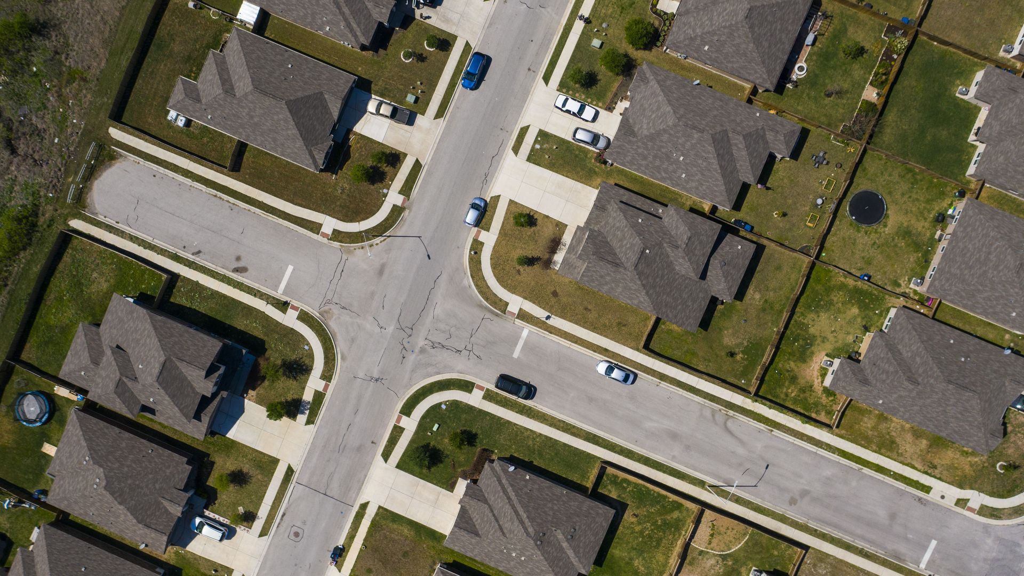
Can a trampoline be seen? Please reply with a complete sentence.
Yes, there is a trampoline in the image.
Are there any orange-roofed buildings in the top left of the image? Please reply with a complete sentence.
No, no orange-roofed building can be made out in the top left of the image.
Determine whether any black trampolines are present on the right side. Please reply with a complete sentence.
Yes, there is a black trampoline on the right side.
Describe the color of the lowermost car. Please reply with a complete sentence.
From above, the lowermost car appears white.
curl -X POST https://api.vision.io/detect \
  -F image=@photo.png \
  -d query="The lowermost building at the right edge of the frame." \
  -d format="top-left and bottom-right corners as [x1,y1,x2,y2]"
[823,305,1024,454]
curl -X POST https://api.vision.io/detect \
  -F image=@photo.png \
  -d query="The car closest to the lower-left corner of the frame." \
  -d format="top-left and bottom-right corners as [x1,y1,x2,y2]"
[189,517,228,545]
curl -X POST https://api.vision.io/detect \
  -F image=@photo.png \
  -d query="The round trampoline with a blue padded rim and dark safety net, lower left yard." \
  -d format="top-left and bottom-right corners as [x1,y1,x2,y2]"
[11,391,53,427]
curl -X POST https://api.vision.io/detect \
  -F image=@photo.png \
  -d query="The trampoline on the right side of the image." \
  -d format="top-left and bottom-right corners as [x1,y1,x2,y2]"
[846,188,885,227]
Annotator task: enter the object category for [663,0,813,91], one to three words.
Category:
house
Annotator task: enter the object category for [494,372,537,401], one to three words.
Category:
car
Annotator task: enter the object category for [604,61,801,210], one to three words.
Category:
house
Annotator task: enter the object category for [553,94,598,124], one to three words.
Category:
car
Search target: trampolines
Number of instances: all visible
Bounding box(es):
[11,391,53,427]
[846,188,885,227]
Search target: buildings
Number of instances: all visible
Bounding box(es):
[823,305,1024,454]
[966,65,1024,208]
[59,293,230,440]
[557,182,757,332]
[246,0,396,51]
[168,26,358,173]
[432,559,464,576]
[1004,26,1024,77]
[8,520,167,576]
[46,408,193,558]
[444,457,616,576]
[663,0,813,91]
[604,61,801,210]
[233,1,260,27]
[918,197,1024,334]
